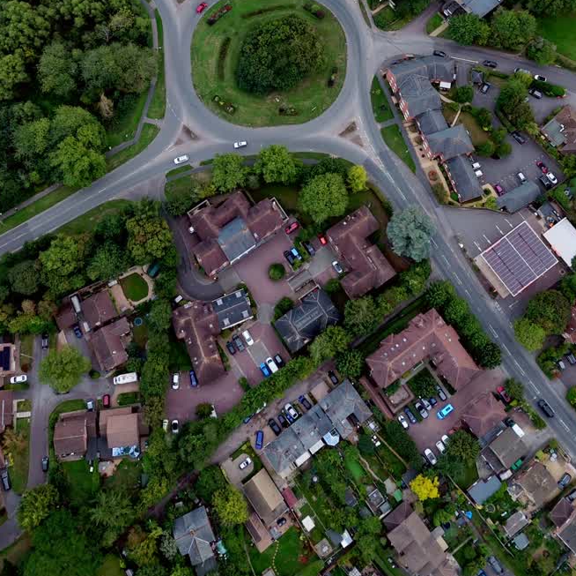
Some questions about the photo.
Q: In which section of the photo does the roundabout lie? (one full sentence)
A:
The roundabout sits in the top section of the image.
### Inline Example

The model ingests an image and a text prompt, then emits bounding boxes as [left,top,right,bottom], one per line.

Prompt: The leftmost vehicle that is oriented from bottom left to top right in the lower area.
[238,456,253,470]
